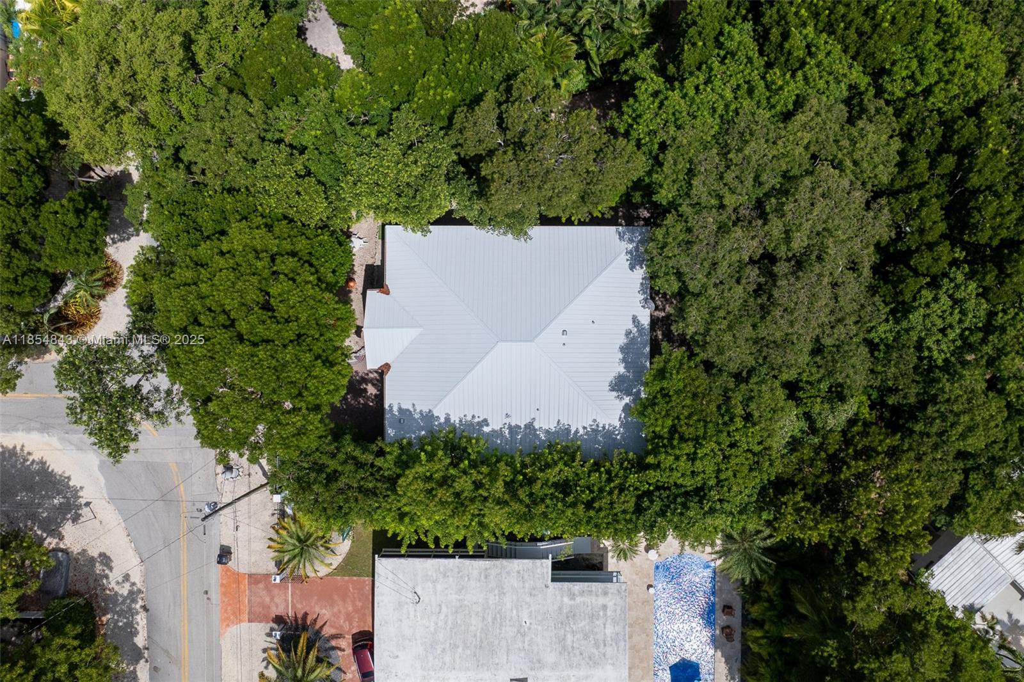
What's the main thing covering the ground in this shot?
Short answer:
trees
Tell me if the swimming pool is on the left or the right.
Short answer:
right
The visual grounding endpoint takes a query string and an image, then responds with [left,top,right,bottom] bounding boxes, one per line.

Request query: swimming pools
[651,550,718,682]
